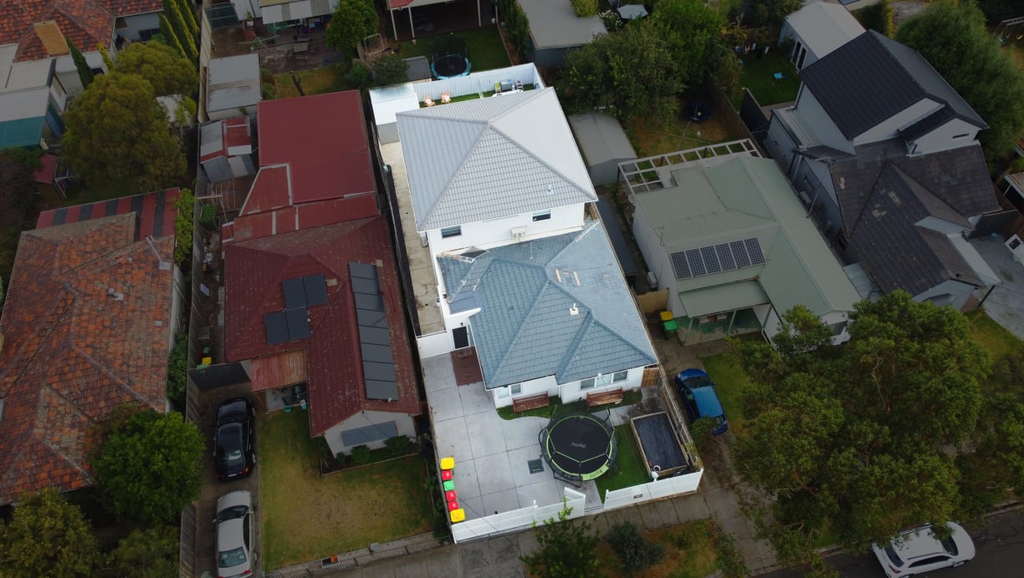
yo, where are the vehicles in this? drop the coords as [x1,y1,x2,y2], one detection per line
[673,363,732,439]
[208,392,257,485]
[210,486,262,578]
[870,523,979,578]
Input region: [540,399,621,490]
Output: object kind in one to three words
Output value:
trampoline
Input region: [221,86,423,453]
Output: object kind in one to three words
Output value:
house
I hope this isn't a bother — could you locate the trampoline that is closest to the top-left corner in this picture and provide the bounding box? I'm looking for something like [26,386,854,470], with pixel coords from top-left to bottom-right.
[426,37,475,77]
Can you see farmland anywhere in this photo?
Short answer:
No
